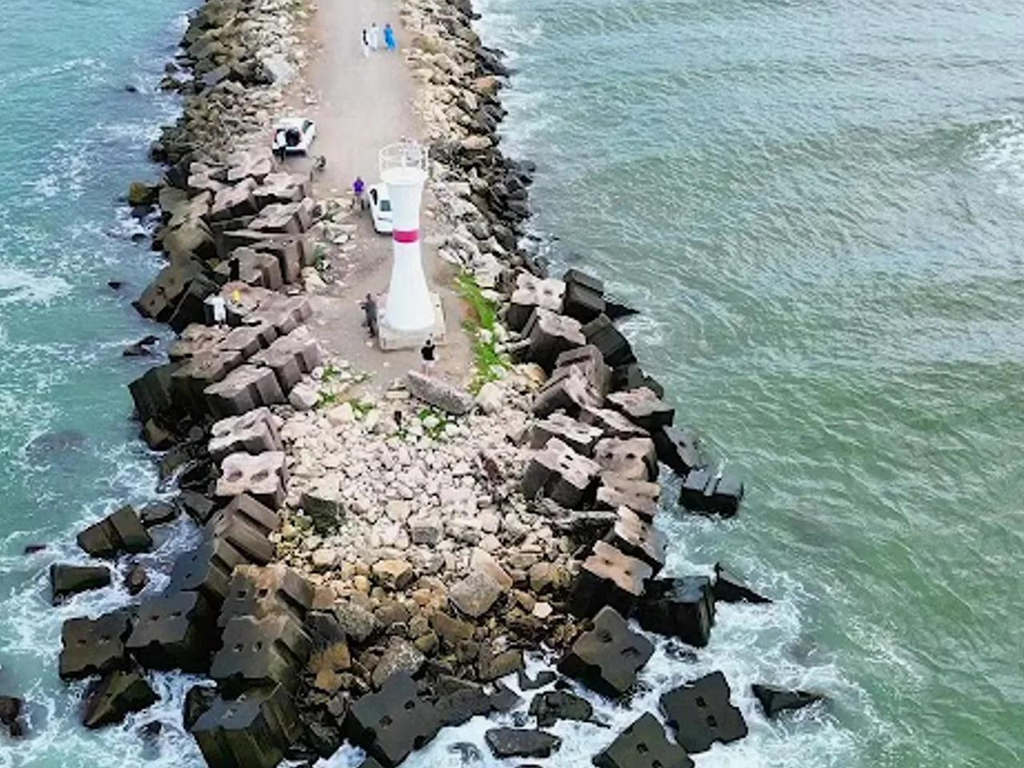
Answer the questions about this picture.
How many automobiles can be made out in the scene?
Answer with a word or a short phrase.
2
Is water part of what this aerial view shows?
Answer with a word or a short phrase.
Yes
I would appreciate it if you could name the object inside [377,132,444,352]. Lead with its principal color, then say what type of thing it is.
white lighthouse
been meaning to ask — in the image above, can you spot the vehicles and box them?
[270,114,322,157]
[371,187,395,236]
